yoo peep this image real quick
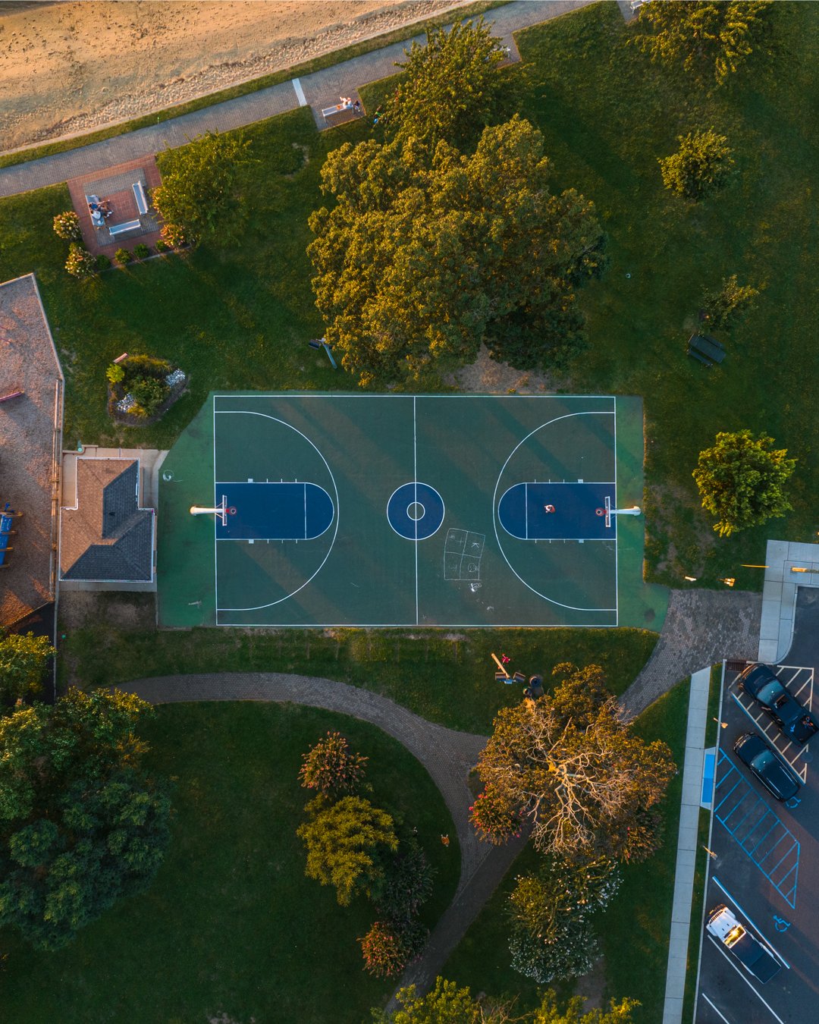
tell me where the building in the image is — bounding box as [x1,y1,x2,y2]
[60,457,158,582]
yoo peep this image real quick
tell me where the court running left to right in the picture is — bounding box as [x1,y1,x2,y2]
[158,392,670,632]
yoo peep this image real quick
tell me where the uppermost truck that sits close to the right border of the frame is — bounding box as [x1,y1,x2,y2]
[740,663,819,749]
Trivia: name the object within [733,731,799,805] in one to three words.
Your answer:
car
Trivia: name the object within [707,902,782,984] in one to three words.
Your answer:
truck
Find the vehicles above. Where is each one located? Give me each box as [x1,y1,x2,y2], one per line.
[707,902,782,984]
[740,663,819,749]
[733,731,799,805]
